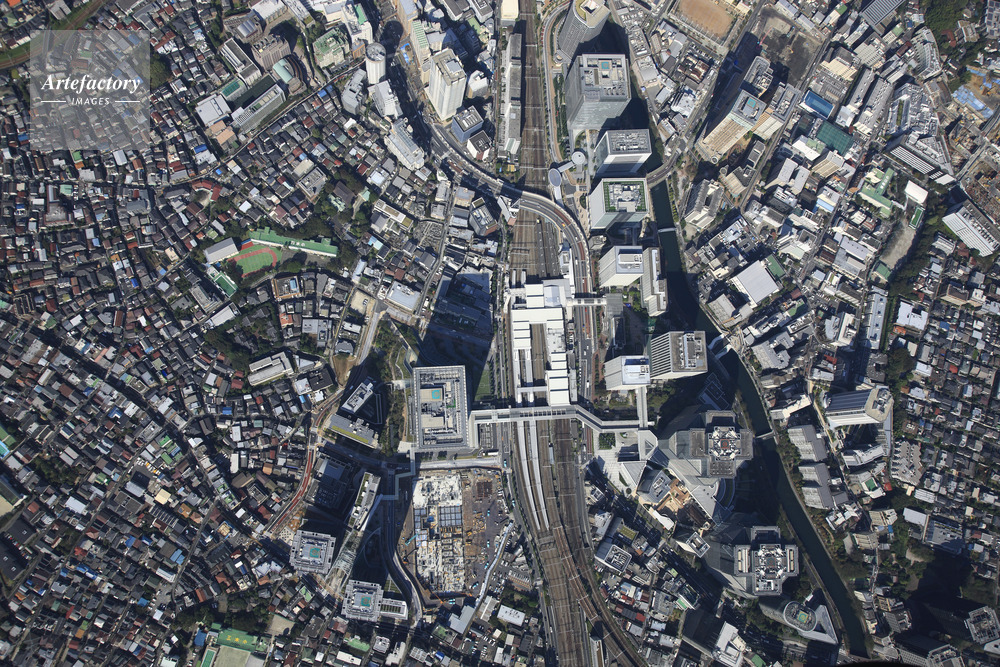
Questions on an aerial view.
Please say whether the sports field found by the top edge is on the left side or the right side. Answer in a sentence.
The sports field found by the top edge is on the right side of the image.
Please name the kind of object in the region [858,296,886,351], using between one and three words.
building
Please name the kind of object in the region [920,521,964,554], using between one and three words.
building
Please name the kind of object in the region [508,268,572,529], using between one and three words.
train station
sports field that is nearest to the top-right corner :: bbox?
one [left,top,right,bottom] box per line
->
[884,221,914,267]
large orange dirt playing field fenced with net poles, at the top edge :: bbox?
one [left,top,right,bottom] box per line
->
[671,0,742,51]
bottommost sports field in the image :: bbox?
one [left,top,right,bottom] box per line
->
[215,646,266,667]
